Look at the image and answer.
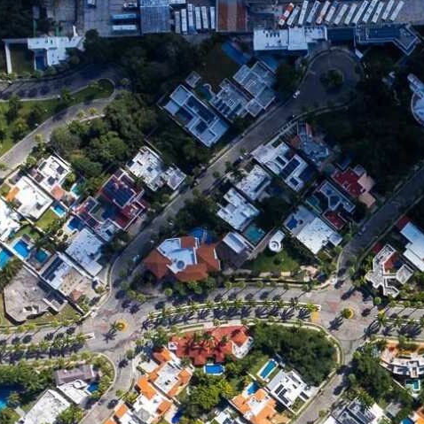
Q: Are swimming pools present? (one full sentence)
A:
Yes, a swimming pool can be made out from above.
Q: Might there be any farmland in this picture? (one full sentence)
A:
No, farmland can't be seen anywhere here.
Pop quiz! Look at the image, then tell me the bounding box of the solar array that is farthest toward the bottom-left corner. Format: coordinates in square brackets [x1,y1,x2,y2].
[41,256,64,282]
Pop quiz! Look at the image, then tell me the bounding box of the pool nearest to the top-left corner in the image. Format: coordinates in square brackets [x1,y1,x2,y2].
[34,51,47,70]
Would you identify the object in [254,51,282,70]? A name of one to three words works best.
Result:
swimming pool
